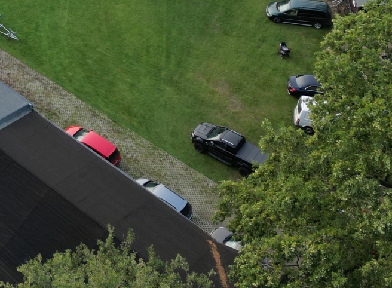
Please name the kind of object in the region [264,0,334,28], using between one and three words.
car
